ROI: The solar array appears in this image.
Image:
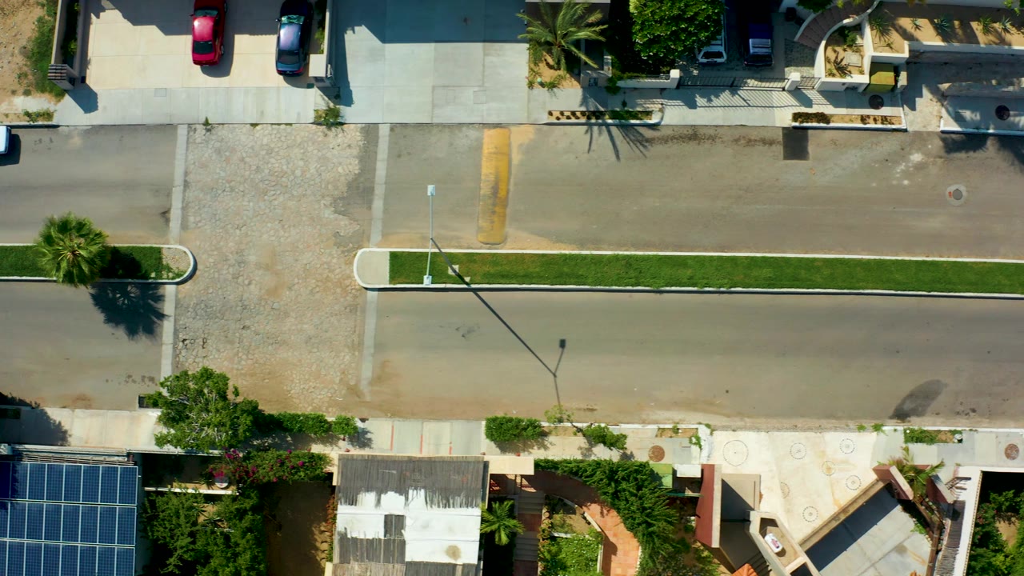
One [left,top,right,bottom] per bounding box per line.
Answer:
[0,461,140,576]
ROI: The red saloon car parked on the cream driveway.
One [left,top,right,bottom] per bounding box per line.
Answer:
[190,0,230,67]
